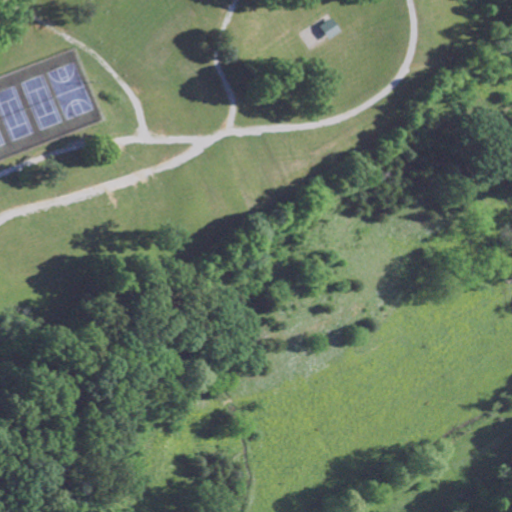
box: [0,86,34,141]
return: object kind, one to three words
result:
tennis court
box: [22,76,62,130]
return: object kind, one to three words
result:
tennis court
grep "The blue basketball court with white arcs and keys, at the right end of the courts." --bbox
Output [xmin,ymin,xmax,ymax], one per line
[48,62,93,120]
